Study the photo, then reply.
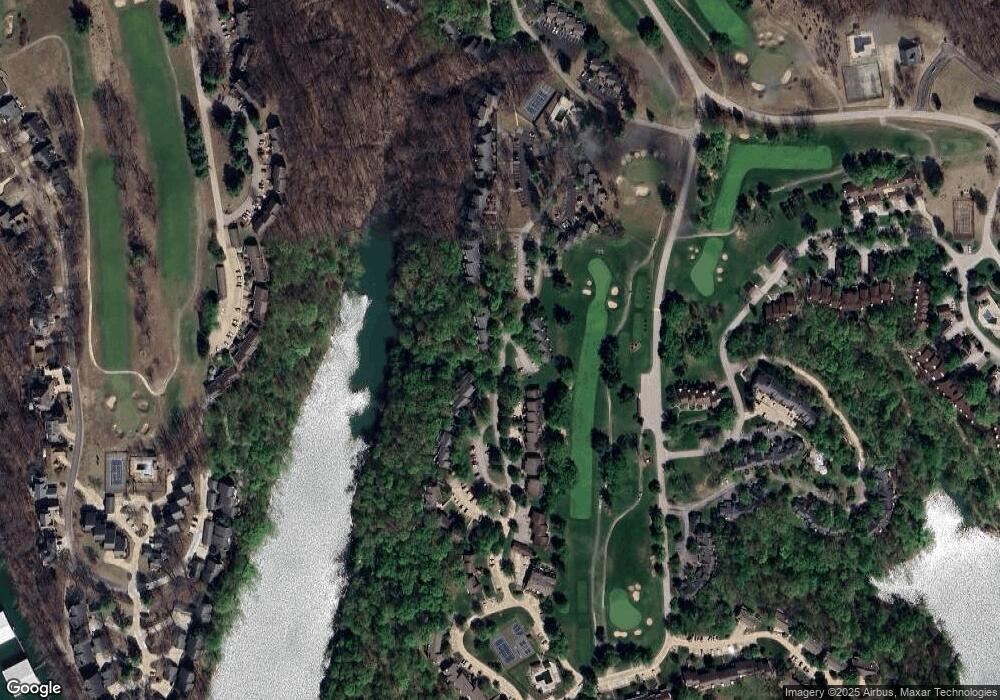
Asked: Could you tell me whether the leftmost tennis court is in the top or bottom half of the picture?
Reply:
bottom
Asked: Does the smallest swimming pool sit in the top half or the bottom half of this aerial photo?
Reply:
top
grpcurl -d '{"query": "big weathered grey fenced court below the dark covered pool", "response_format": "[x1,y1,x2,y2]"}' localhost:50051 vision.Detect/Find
[842,61,885,103]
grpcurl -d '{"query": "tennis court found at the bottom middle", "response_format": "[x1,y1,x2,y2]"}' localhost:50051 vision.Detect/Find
[490,620,535,671]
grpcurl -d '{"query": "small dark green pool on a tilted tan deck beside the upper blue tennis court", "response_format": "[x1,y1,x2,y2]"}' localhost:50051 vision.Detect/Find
[551,97,573,124]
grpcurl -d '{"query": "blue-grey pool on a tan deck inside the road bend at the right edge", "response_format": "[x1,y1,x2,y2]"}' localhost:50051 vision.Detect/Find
[979,294,1000,329]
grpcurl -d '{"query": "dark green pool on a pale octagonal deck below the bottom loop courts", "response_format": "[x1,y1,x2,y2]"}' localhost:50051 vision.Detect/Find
[530,660,561,692]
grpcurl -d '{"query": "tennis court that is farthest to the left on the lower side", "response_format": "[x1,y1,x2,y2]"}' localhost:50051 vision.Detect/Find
[105,452,128,493]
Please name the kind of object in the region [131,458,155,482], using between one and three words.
swimming pool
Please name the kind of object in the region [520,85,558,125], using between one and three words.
tennis court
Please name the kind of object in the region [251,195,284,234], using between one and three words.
building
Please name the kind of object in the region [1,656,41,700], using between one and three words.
pier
